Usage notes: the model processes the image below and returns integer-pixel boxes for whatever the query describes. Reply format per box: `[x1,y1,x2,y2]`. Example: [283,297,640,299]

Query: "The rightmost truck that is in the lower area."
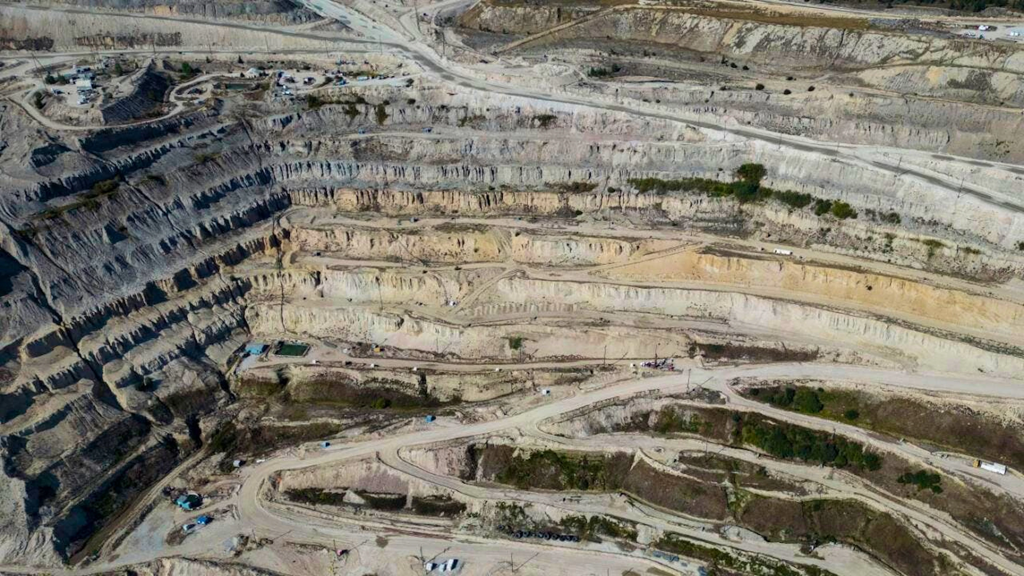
[973,460,1010,481]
